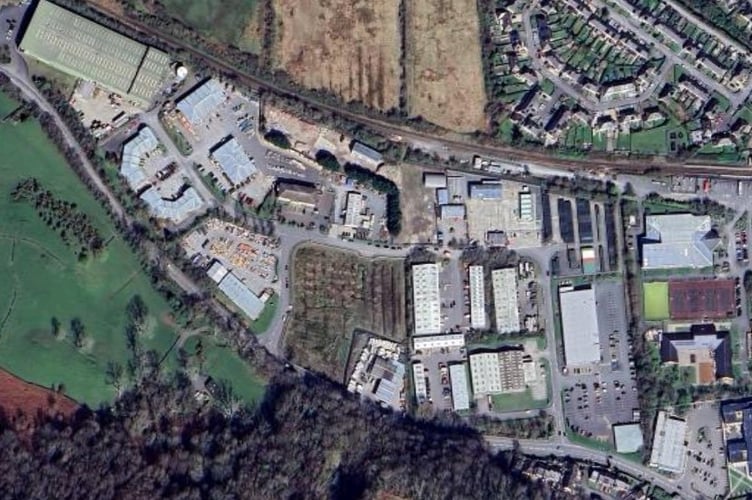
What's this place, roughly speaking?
residential area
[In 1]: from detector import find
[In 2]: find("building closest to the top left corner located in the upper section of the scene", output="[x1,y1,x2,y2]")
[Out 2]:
[19,0,171,104]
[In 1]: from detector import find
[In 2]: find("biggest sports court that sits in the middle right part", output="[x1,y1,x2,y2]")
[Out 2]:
[669,278,737,319]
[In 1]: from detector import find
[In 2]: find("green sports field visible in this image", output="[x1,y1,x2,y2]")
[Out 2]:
[645,283,670,319]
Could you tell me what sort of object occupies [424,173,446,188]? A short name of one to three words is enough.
shed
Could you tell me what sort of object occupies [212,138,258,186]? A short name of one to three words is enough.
building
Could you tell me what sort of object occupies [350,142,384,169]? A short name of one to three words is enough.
barn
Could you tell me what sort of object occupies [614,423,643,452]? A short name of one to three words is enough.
building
